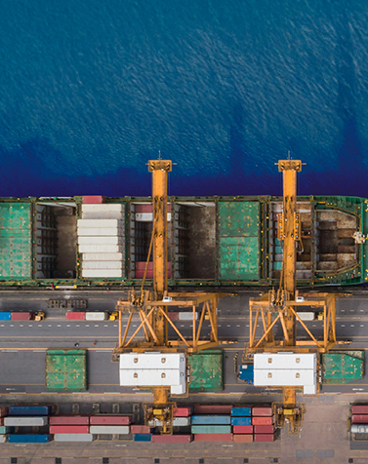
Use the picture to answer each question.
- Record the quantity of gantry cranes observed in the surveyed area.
2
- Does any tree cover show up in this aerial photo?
No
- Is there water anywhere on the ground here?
Yes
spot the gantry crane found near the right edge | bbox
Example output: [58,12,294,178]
[239,152,358,433]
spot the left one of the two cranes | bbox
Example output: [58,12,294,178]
[109,152,237,433]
